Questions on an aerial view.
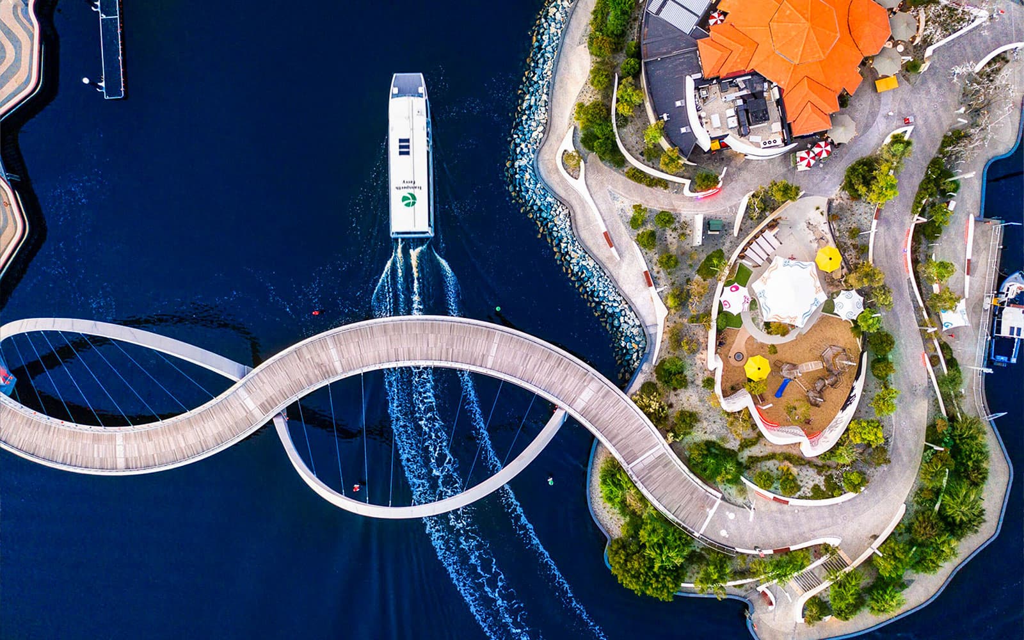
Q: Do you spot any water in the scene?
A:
Yes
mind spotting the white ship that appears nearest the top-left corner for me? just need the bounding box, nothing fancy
[389,72,435,239]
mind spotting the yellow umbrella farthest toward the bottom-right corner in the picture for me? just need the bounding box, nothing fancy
[745,355,770,381]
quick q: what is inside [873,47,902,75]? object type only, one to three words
umbrella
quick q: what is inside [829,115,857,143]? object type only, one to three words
umbrella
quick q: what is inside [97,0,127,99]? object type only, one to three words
pier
